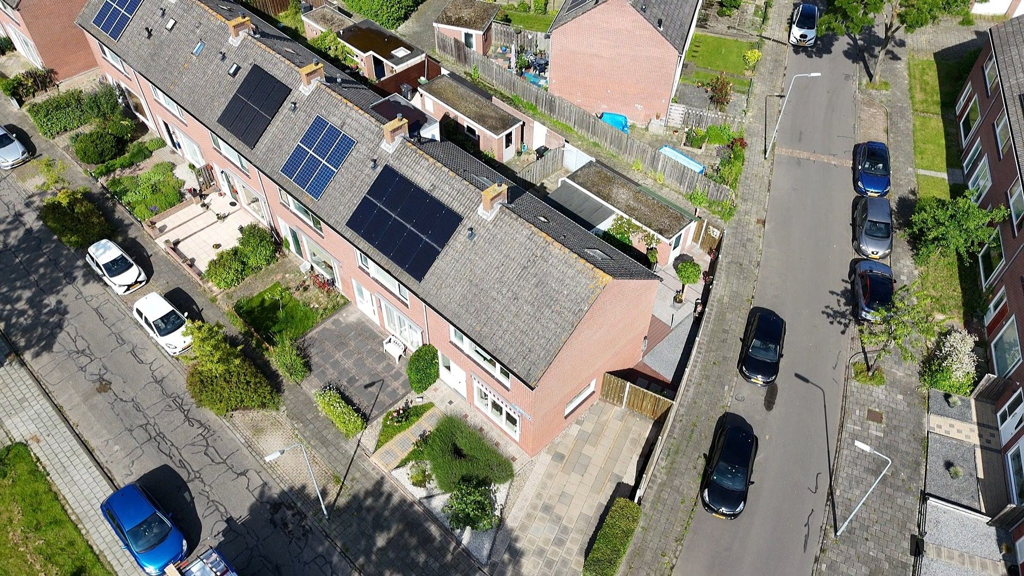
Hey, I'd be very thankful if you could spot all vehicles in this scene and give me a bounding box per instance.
[131,290,195,359]
[850,265,899,329]
[852,195,899,262]
[106,472,184,576]
[0,123,28,172]
[852,140,896,197]
[89,236,149,297]
[787,3,821,47]
[699,418,762,521]
[737,307,789,387]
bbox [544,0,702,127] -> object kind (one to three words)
house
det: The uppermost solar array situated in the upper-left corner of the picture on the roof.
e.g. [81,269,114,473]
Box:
[89,0,139,39]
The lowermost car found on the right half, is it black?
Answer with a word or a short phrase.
Yes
